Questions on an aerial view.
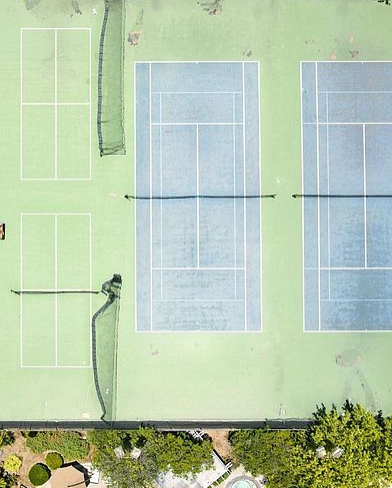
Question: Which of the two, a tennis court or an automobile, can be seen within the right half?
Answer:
tennis court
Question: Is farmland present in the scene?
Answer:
No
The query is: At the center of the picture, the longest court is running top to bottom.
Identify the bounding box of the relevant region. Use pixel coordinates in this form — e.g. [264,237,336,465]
[135,62,263,333]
